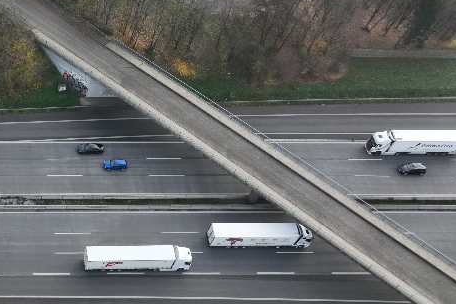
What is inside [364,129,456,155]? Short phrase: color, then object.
white truck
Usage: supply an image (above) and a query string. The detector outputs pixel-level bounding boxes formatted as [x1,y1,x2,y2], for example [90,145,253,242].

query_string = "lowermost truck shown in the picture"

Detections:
[83,246,193,273]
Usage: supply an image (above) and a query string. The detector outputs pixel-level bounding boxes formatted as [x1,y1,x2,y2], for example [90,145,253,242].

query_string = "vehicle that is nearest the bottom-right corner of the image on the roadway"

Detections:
[400,162,428,175]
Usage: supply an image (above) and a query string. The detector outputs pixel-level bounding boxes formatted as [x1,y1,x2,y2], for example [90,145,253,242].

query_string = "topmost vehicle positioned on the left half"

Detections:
[77,142,105,154]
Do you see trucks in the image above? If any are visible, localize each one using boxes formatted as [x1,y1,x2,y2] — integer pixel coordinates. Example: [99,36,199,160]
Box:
[83,246,193,273]
[206,223,317,250]
[364,129,456,155]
